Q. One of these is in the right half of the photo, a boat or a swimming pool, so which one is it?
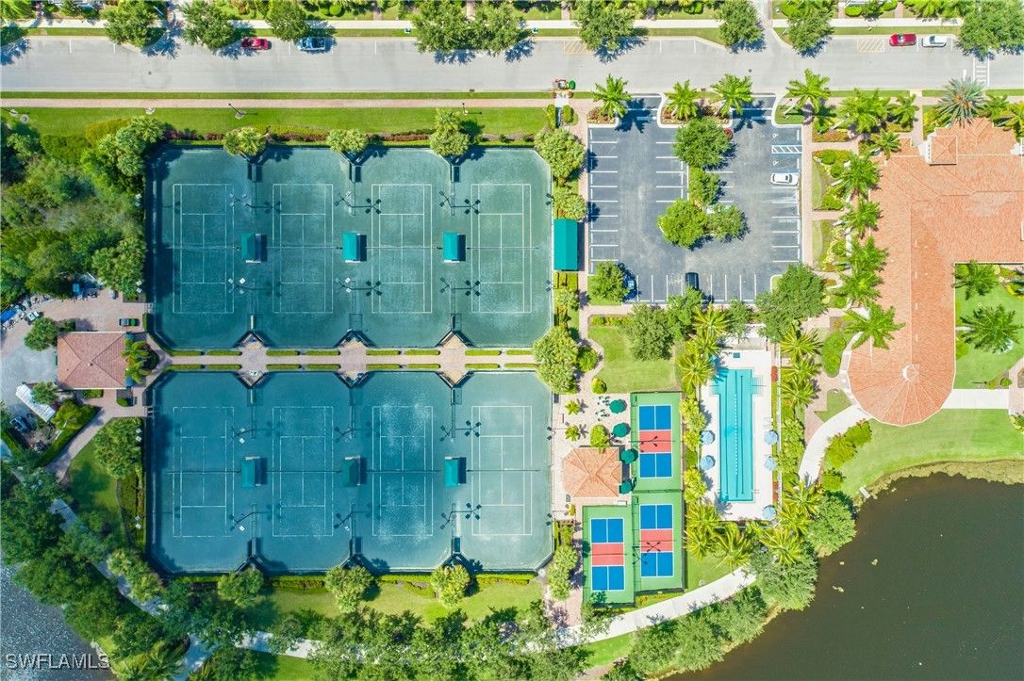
swimming pool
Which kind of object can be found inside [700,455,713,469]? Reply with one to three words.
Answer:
umbrella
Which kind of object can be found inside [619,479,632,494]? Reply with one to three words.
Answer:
umbrella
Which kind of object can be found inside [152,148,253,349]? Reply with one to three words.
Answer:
tennis court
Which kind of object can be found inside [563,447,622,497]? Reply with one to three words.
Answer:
building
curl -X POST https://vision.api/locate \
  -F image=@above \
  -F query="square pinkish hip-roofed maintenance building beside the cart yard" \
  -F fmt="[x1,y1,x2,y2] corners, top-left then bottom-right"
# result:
[57,331,132,389]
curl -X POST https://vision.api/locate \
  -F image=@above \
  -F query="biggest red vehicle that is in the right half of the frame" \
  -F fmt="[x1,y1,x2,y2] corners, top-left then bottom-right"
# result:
[888,34,916,47]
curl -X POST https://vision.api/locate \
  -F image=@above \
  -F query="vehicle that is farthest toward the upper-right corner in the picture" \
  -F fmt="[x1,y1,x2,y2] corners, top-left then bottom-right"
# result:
[921,34,946,48]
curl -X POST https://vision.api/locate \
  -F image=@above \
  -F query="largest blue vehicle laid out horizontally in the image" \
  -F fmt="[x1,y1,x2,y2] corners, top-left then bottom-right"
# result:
[298,37,327,51]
